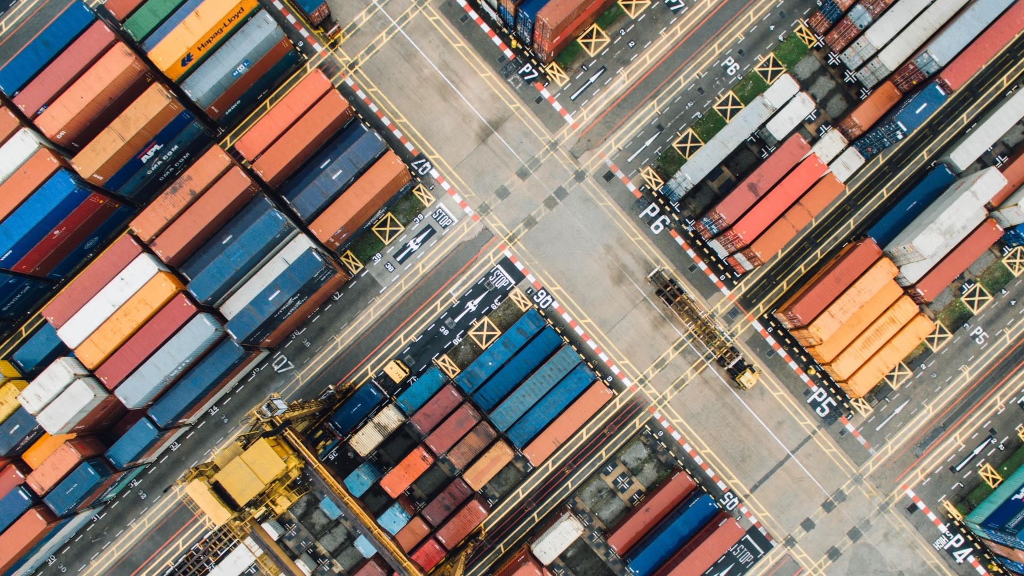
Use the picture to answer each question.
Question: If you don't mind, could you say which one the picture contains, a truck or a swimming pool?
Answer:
truck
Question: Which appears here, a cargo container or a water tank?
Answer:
cargo container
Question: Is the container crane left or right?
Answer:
left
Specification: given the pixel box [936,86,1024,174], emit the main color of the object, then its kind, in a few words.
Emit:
white shipping container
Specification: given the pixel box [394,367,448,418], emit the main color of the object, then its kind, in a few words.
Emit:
blue shipping container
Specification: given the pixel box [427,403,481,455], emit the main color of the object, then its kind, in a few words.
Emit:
red shipping container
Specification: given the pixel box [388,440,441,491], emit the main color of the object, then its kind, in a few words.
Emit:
red shipping container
